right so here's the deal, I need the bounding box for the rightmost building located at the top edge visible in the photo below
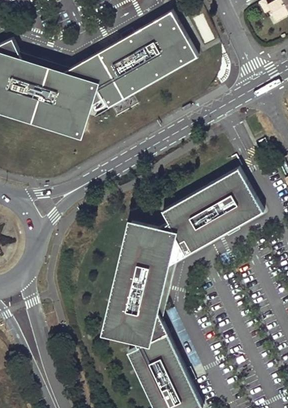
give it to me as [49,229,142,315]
[258,0,288,22]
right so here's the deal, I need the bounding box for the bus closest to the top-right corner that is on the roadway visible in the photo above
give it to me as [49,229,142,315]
[253,78,282,98]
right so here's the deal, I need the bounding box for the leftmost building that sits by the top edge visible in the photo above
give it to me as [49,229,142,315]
[0,9,200,142]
